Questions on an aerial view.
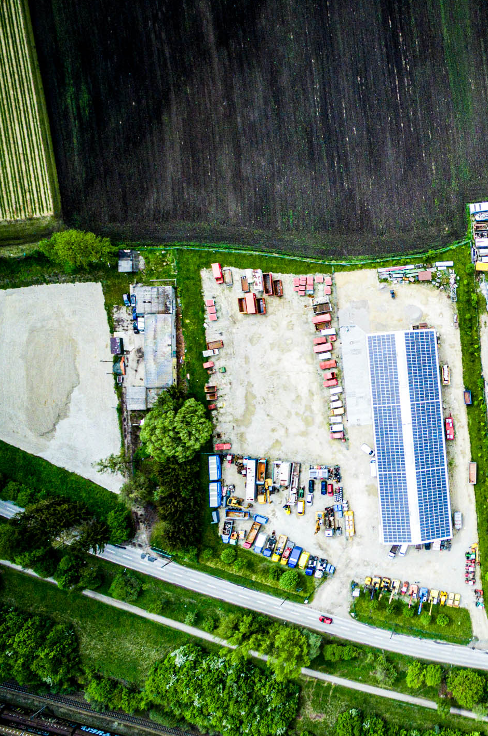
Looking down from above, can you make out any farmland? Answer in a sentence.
Yes, farmland can be seen from above here.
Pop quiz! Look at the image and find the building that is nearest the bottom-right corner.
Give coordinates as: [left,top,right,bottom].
[365,327,454,547]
